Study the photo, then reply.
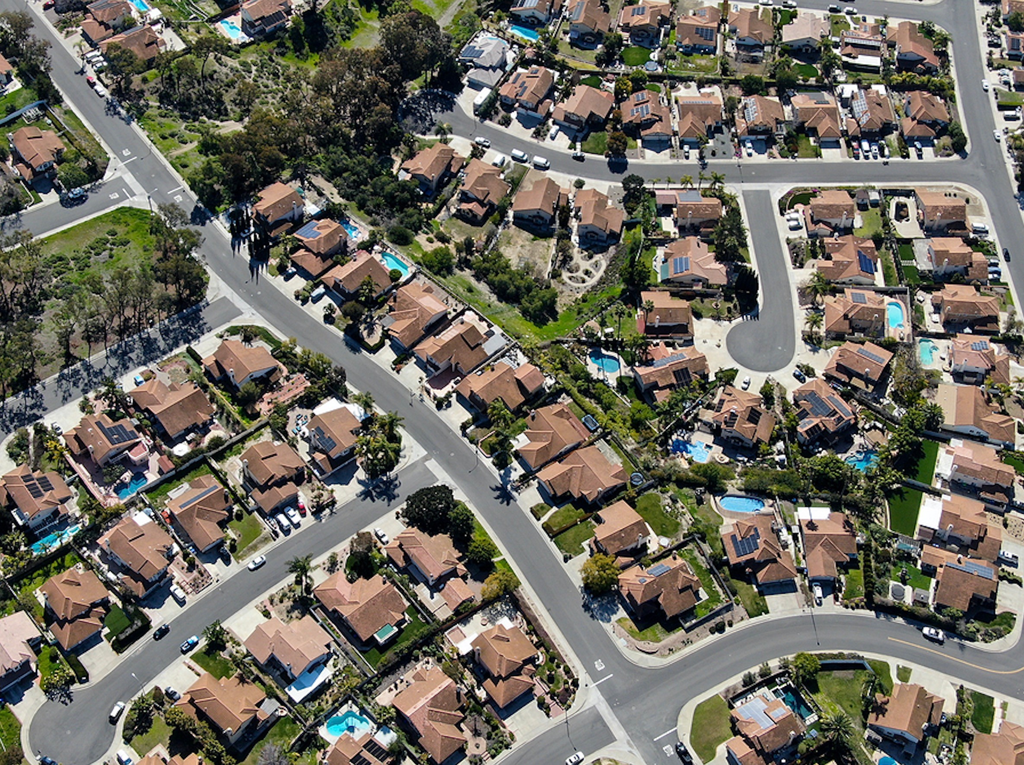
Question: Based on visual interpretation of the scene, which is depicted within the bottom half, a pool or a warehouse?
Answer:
pool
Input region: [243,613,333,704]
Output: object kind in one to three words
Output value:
house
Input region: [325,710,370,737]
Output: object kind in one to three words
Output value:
swimming pool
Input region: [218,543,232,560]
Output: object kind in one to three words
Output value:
car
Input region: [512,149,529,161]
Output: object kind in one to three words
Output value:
vehicle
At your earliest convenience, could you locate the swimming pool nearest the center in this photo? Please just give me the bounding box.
[588,348,620,373]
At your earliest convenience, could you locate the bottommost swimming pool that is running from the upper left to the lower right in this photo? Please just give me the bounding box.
[785,689,812,718]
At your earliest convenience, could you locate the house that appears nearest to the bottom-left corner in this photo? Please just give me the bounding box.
[0,606,43,686]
